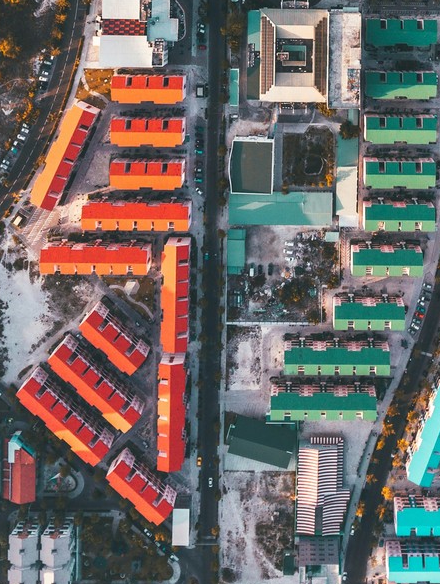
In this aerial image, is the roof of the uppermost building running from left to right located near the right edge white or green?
green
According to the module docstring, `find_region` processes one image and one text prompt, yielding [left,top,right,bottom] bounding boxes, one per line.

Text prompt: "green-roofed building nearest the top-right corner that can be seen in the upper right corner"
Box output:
[363,17,438,46]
